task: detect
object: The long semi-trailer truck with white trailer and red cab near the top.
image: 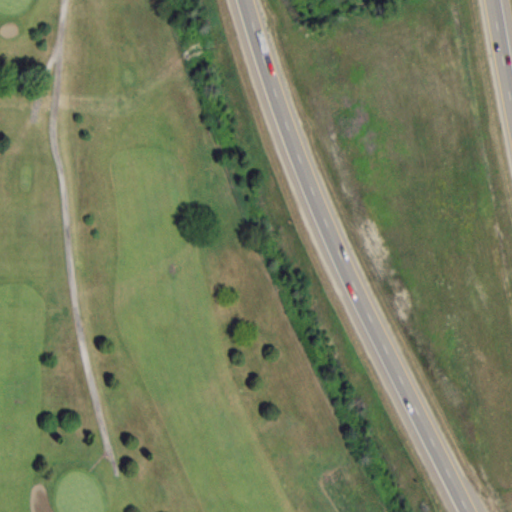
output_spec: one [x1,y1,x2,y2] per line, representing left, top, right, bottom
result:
[258,30,276,76]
